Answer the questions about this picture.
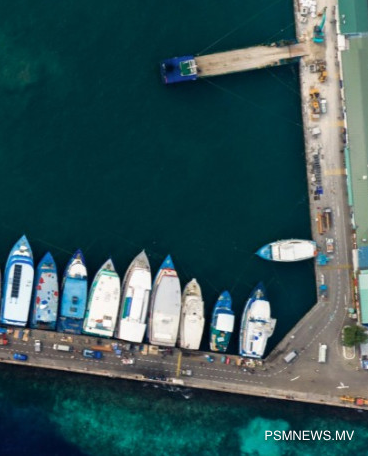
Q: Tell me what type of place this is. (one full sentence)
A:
What you see here is a port.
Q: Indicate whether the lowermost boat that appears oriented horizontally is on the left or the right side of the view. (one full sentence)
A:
The lowermost boat that appears oriented horizontally appears in the right half of the scene.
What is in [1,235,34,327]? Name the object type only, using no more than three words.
boat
